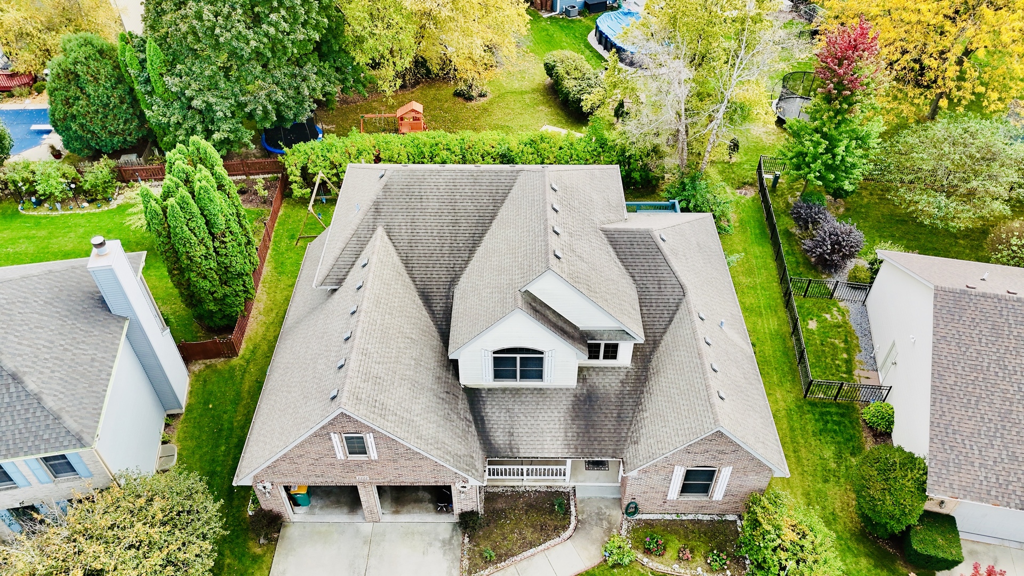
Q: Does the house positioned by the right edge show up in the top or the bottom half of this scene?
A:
bottom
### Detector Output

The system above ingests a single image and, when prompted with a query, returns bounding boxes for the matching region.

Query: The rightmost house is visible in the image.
[867,254,1024,548]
